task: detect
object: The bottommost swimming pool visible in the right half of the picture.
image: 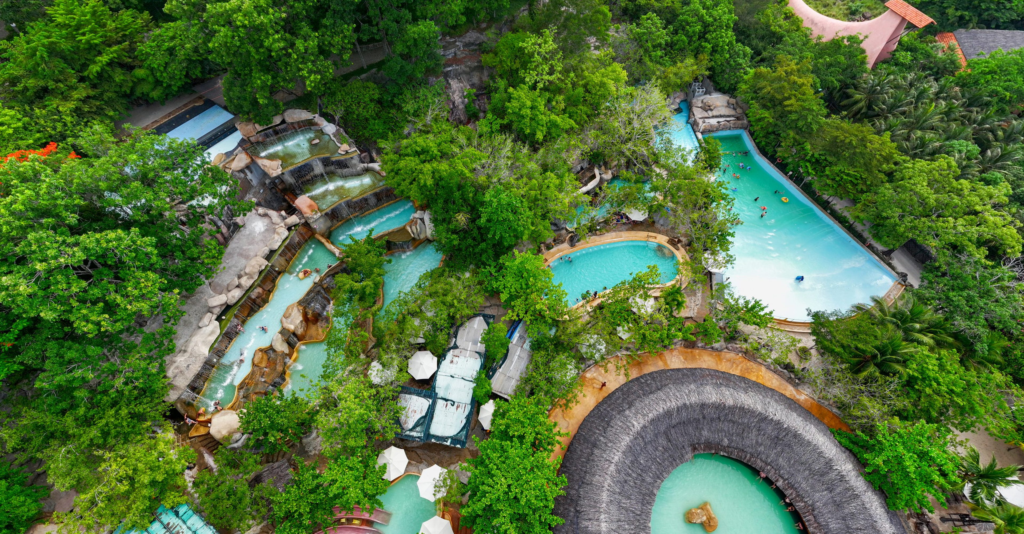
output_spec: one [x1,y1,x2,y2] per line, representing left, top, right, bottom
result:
[650,453,808,534]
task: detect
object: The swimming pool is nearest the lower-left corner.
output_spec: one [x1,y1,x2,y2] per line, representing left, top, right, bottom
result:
[366,470,445,534]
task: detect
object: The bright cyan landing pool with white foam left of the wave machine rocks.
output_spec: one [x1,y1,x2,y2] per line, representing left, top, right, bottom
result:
[651,104,716,192]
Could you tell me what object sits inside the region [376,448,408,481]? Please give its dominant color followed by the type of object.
white umbrella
